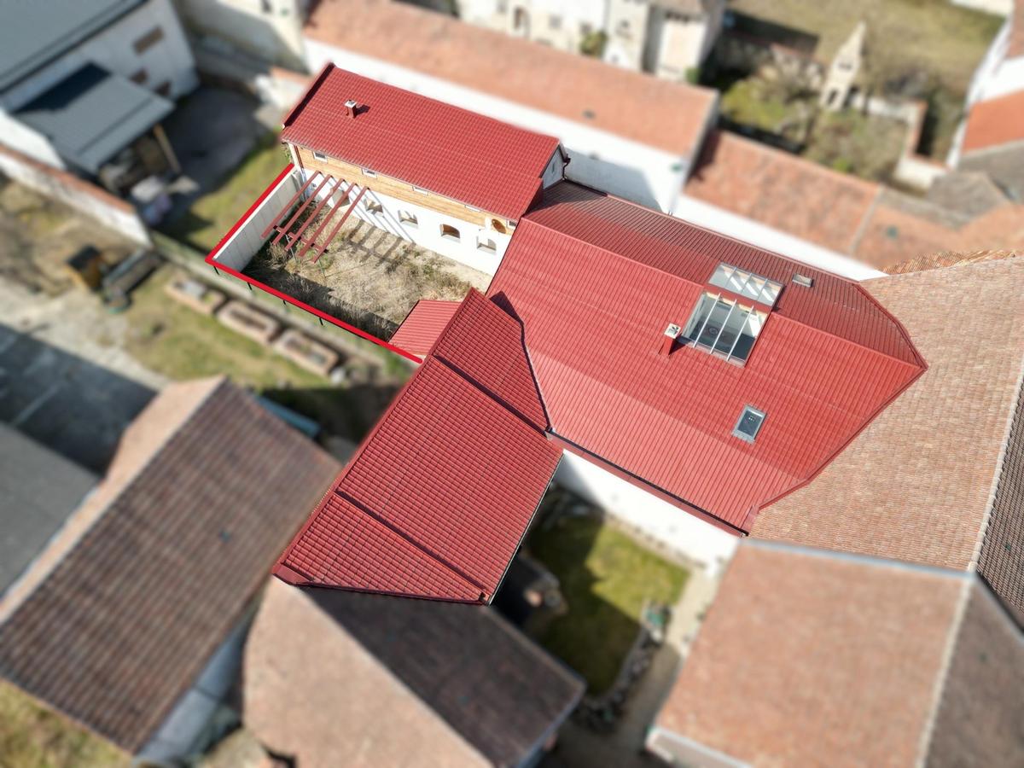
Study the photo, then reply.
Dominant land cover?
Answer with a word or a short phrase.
buildings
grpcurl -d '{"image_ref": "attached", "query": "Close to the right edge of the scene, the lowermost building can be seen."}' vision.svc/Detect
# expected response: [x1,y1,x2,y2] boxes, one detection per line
[644,539,1024,768]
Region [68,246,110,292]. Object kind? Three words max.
shed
